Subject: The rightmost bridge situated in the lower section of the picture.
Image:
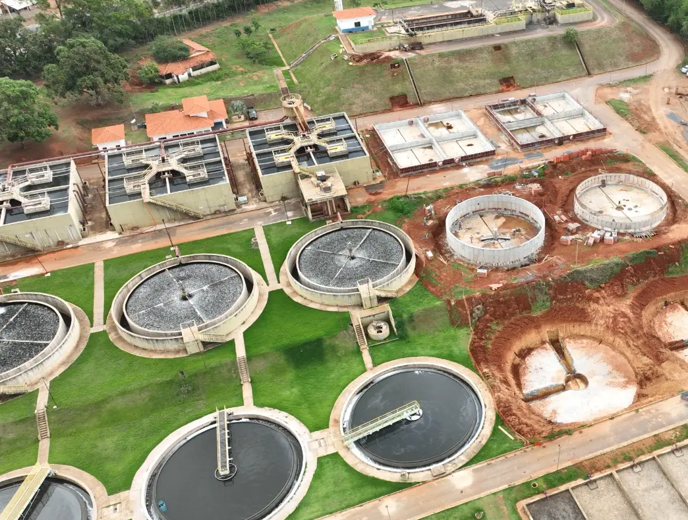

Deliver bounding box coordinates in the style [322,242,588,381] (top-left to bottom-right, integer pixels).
[338,404,416,455]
